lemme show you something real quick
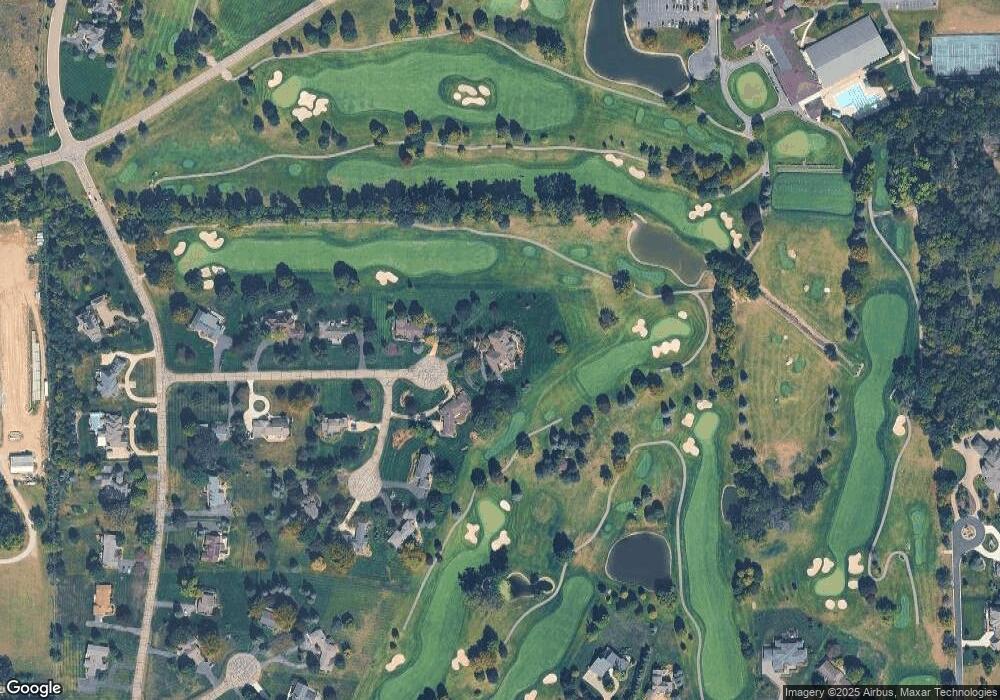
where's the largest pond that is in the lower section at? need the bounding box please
[606,532,671,590]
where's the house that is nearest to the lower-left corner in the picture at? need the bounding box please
[82,644,110,678]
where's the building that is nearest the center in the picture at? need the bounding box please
[481,328,520,373]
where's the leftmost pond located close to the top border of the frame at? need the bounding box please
[585,0,688,96]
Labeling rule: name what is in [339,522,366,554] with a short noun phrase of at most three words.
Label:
house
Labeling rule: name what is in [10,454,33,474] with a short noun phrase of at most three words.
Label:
shed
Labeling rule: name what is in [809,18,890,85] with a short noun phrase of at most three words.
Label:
building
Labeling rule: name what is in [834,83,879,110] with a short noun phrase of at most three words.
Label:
swimming pool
